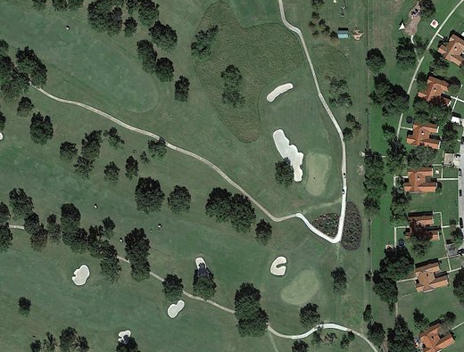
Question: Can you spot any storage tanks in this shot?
No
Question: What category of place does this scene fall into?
golf course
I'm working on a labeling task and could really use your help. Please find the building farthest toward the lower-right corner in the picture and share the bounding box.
[418,322,457,352]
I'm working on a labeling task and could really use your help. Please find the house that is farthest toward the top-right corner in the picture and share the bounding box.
[438,34,464,67]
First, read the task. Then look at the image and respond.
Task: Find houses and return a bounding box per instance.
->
[404,166,438,192]
[418,322,457,352]
[415,260,450,294]
[417,72,453,105]
[404,215,440,240]
[407,122,441,148]
[438,34,464,67]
